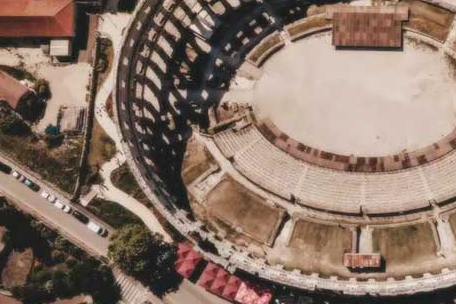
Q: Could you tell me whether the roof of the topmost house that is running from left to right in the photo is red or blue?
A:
red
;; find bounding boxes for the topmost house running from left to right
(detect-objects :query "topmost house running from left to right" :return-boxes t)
[0,0,85,41]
